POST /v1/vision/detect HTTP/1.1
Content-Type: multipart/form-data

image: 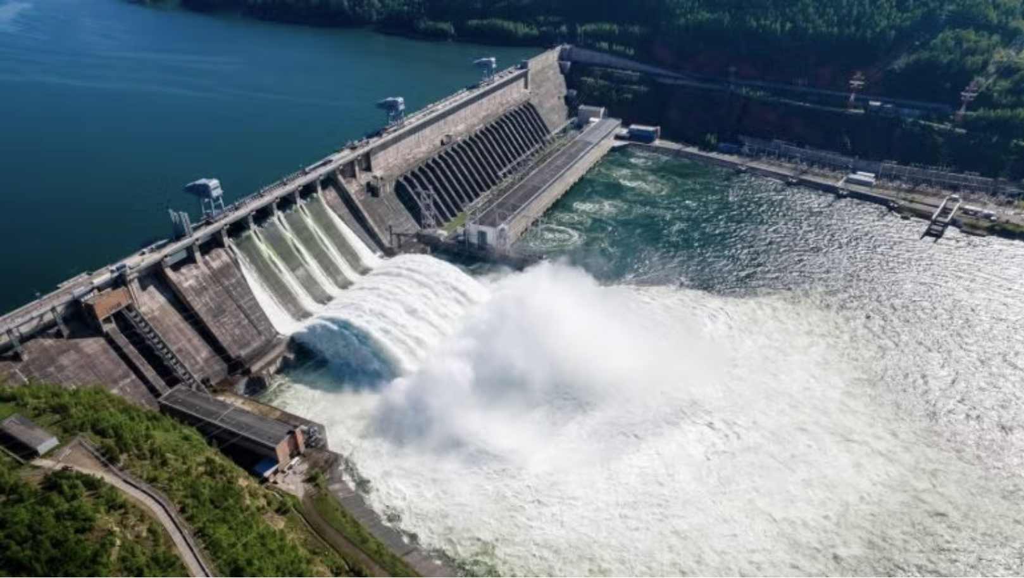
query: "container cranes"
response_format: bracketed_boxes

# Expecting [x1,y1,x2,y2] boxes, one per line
[461,48,501,80]
[170,176,223,224]
[365,89,410,126]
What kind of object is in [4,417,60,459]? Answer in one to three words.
shed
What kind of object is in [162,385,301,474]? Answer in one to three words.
building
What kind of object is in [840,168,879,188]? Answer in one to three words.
building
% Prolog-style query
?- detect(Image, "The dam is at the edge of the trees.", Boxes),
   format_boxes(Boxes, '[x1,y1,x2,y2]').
[0,48,587,442]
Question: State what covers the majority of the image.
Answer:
water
